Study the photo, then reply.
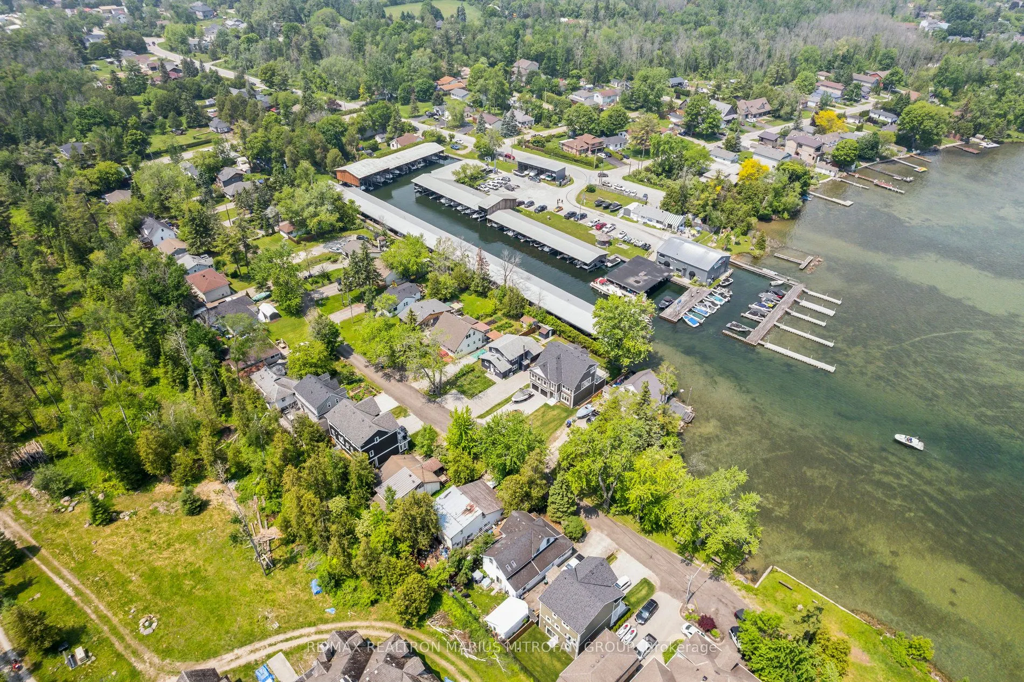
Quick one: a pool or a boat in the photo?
boat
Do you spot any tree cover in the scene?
Yes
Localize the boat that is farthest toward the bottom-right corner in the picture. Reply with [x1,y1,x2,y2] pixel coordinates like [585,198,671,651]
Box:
[895,433,928,451]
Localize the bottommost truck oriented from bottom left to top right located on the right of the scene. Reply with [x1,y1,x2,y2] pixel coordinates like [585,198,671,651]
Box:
[632,624,662,662]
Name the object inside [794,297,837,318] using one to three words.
pier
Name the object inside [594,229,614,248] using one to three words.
gazebo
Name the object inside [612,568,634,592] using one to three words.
car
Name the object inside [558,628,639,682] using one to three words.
house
